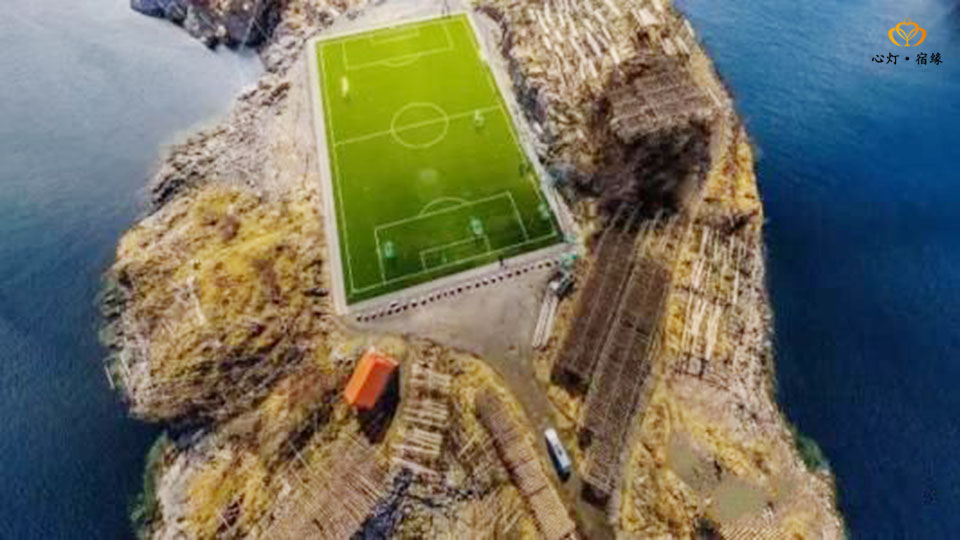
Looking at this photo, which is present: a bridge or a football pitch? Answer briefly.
football pitch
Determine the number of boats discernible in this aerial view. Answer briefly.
none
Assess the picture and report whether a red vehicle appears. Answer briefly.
No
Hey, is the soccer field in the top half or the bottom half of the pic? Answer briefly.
top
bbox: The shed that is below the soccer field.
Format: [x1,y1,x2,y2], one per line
[345,349,401,412]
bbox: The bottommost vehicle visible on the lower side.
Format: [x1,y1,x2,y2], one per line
[544,429,571,478]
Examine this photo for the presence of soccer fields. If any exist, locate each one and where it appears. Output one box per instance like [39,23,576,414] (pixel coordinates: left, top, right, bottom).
[309,8,574,313]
